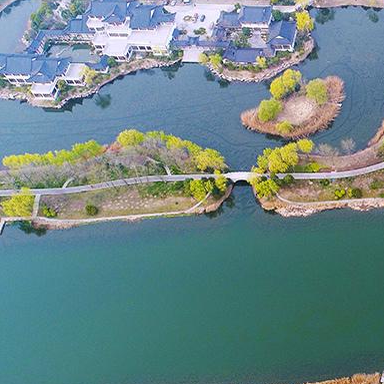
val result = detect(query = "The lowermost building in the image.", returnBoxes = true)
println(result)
[30,82,64,100]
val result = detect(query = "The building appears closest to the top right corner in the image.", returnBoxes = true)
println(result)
[268,22,300,55]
